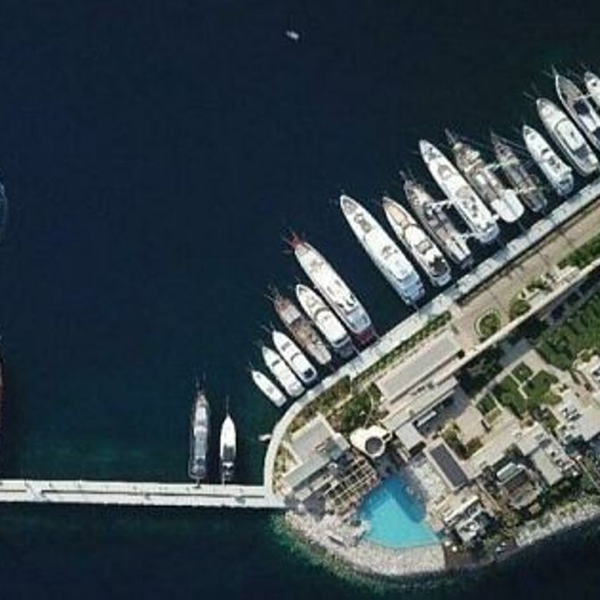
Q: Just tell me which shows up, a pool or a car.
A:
pool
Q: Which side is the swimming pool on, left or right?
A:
right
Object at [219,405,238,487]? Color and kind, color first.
white boat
